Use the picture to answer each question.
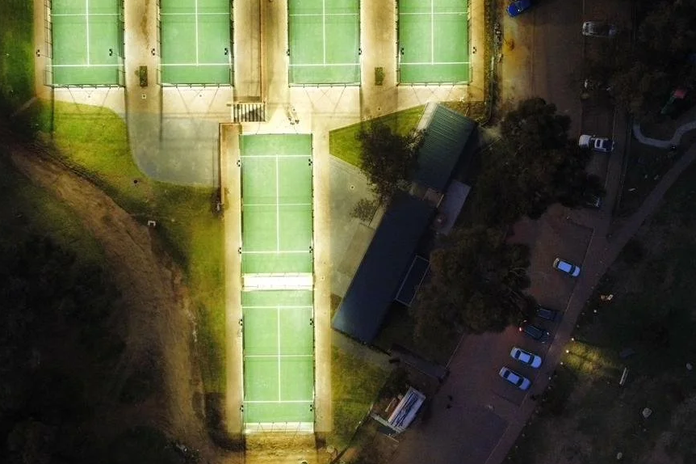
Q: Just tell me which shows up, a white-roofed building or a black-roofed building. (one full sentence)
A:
The one in the frame is a black-roofed building.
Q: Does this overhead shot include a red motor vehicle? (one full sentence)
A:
No, the picture doesn't show any red motor vehicle.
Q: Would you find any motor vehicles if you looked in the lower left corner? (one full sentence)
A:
No, the scene shows no motor vehicle in the lower left corner.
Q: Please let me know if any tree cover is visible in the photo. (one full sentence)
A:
Yes, there is tree cover in the image.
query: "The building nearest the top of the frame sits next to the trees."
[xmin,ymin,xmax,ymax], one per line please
[407,104,478,193]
